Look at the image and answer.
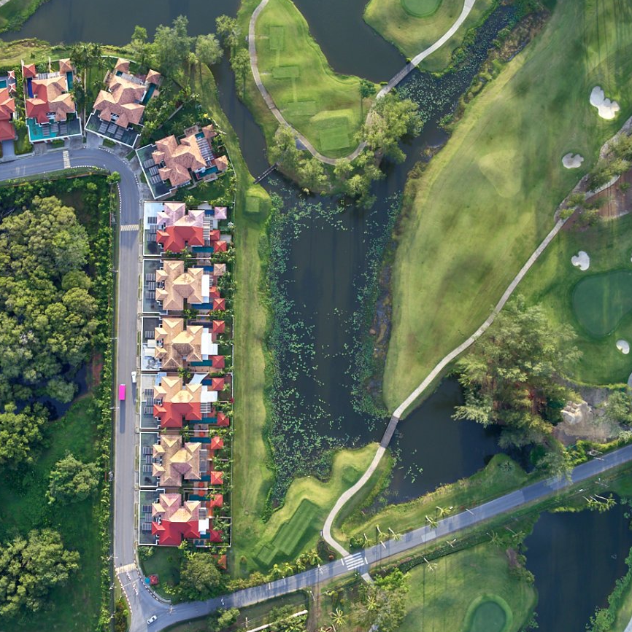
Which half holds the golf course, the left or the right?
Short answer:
right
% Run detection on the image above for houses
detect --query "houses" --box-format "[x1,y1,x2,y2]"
[140,434,206,489]
[27,74,82,142]
[139,492,210,548]
[142,259,213,313]
[141,375,217,430]
[136,136,211,199]
[84,74,147,148]
[143,200,215,256]
[0,84,18,139]
[141,318,218,372]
